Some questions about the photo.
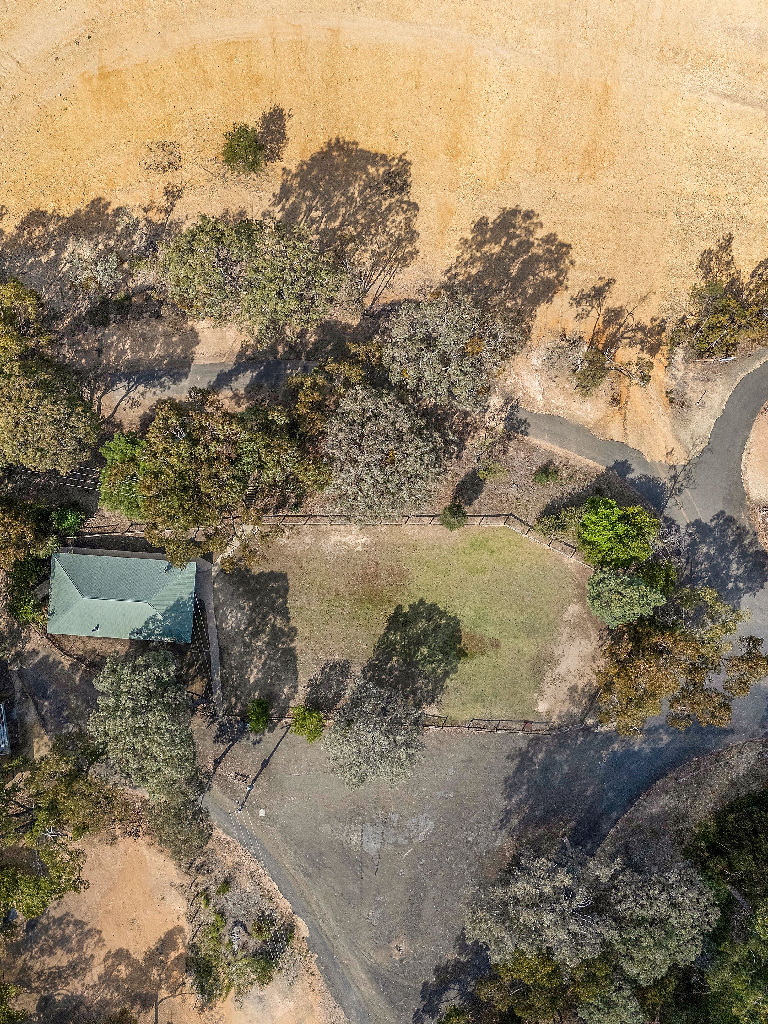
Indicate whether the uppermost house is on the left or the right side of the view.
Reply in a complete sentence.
The uppermost house appears in the left half of the scene.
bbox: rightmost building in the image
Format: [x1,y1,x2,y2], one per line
[46,552,198,643]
